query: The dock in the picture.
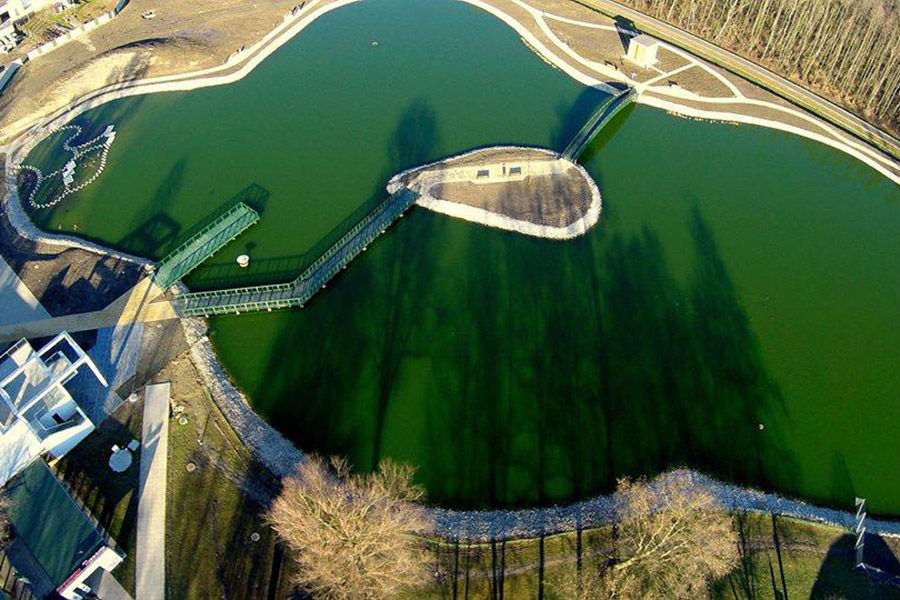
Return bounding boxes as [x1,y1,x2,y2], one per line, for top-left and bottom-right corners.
[152,202,258,295]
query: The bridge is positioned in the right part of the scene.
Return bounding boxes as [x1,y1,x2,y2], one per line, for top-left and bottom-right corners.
[560,85,643,170]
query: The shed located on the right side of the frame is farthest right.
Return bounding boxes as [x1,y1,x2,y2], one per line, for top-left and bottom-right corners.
[621,32,661,73]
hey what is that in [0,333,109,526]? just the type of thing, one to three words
house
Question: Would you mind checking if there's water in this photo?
Yes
